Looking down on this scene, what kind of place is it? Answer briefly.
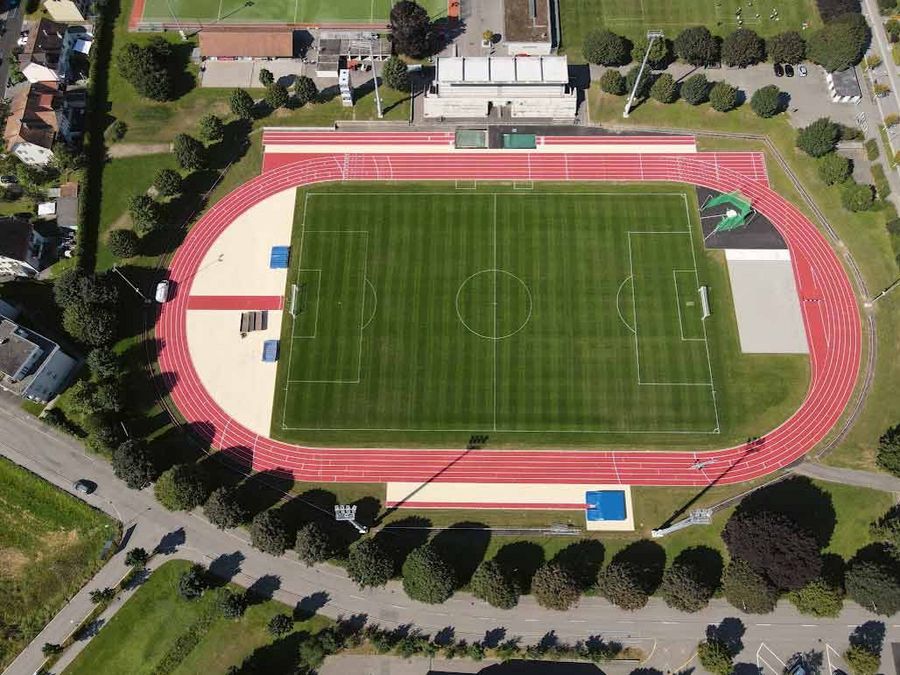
sports ground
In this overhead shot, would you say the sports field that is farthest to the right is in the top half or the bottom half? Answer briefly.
top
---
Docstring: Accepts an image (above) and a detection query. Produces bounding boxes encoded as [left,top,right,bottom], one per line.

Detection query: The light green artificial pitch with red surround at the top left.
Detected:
[128,0,448,32]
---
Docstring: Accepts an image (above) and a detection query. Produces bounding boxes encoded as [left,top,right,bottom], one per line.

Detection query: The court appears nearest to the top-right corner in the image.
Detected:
[724,250,807,353]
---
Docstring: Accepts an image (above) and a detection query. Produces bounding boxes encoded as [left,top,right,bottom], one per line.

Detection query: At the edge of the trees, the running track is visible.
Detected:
[155,151,862,486]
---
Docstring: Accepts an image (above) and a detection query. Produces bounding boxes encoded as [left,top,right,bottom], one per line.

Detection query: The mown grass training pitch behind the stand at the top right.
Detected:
[561,0,817,62]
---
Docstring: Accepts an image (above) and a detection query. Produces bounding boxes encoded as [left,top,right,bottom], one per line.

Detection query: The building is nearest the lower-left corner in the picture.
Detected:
[0,314,77,402]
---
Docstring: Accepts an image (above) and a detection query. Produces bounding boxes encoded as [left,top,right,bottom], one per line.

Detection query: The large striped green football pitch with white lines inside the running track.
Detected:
[186,181,813,452]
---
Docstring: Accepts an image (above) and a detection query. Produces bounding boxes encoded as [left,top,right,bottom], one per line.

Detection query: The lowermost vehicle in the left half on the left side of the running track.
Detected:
[74,478,93,494]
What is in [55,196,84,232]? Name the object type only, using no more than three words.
building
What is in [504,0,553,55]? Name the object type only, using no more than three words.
building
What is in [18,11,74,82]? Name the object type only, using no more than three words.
house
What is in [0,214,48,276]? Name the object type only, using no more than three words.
house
